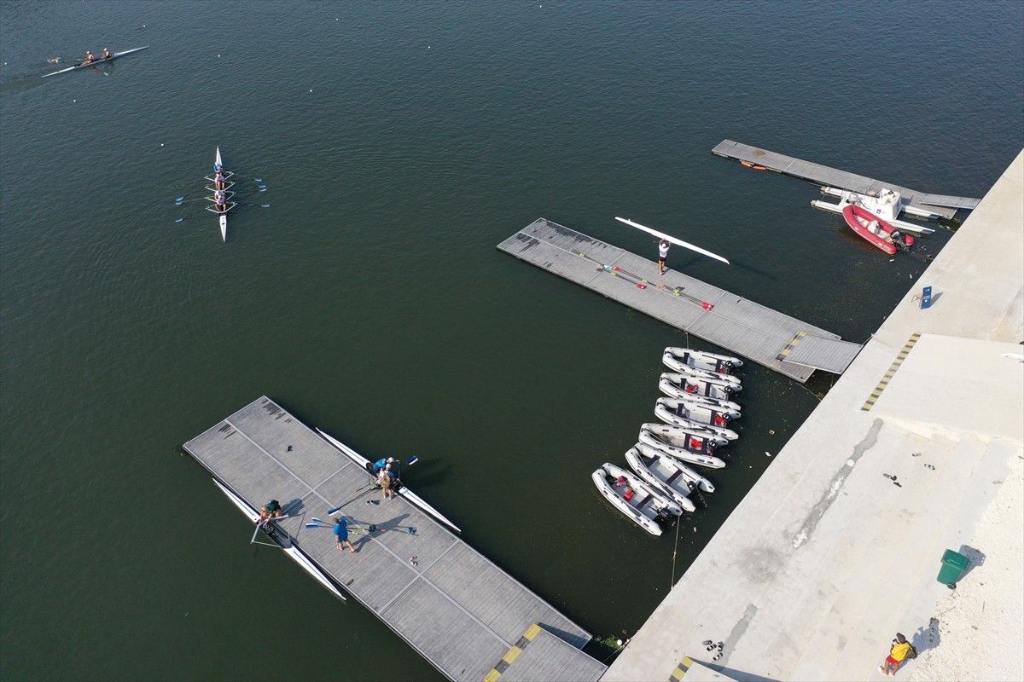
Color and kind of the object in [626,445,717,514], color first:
white boat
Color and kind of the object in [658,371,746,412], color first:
white boat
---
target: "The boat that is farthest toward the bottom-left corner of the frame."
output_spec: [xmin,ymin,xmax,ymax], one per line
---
[211,480,346,606]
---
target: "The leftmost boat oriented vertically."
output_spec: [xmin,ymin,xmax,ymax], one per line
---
[206,149,235,243]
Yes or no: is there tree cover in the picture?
No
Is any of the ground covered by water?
Yes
